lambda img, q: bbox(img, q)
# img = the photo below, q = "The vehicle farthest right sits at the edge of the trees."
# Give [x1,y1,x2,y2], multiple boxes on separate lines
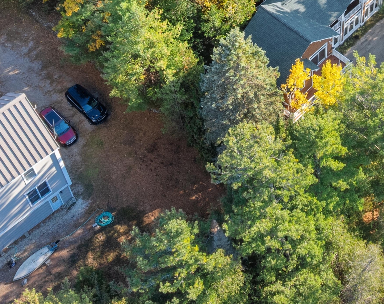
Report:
[63,81,109,132]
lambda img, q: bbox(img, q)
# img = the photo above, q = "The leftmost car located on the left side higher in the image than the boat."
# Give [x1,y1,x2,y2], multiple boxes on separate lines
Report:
[37,102,80,153]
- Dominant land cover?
trees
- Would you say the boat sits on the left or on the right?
left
